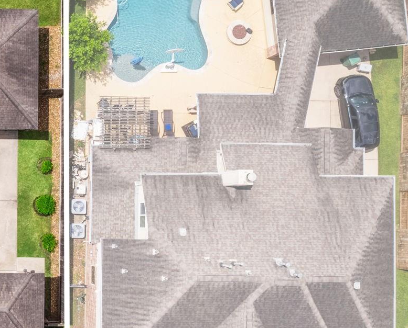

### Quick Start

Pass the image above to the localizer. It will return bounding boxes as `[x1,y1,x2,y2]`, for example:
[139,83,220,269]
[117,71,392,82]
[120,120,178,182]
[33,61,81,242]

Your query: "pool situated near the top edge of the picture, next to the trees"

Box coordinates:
[106,0,213,87]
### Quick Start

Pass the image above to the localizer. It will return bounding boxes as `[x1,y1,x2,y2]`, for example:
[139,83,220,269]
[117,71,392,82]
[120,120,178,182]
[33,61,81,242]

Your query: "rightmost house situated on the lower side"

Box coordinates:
[84,93,398,328]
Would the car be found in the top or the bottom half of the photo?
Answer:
top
